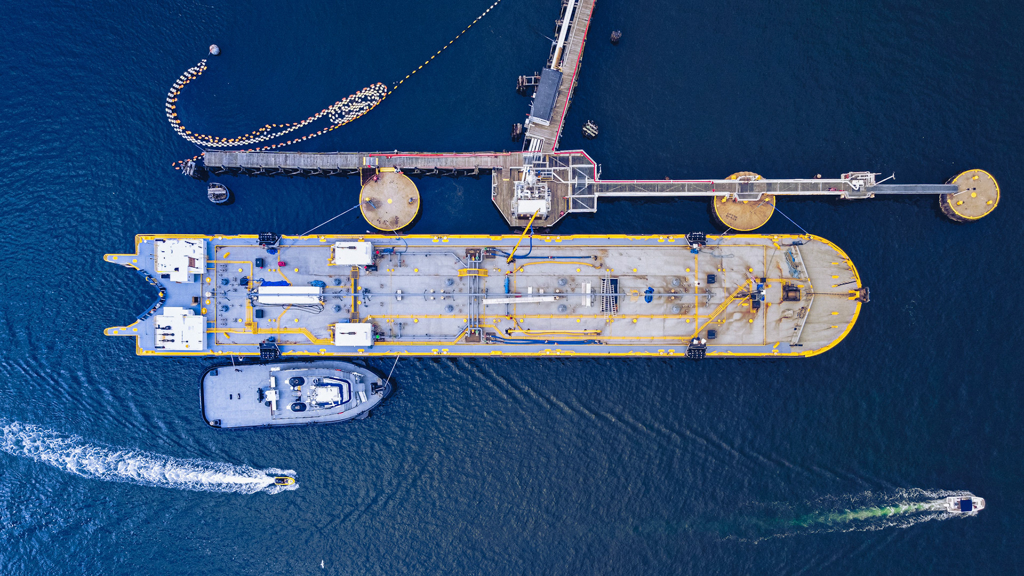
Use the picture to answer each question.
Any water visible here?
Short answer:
Yes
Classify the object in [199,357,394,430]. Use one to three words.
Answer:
boat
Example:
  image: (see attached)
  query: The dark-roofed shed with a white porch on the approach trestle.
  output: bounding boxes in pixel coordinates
[524,68,562,126]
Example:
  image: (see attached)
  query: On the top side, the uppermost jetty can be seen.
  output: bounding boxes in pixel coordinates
[522,0,596,155]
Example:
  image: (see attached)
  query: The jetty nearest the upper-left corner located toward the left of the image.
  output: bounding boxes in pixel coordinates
[203,149,525,178]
